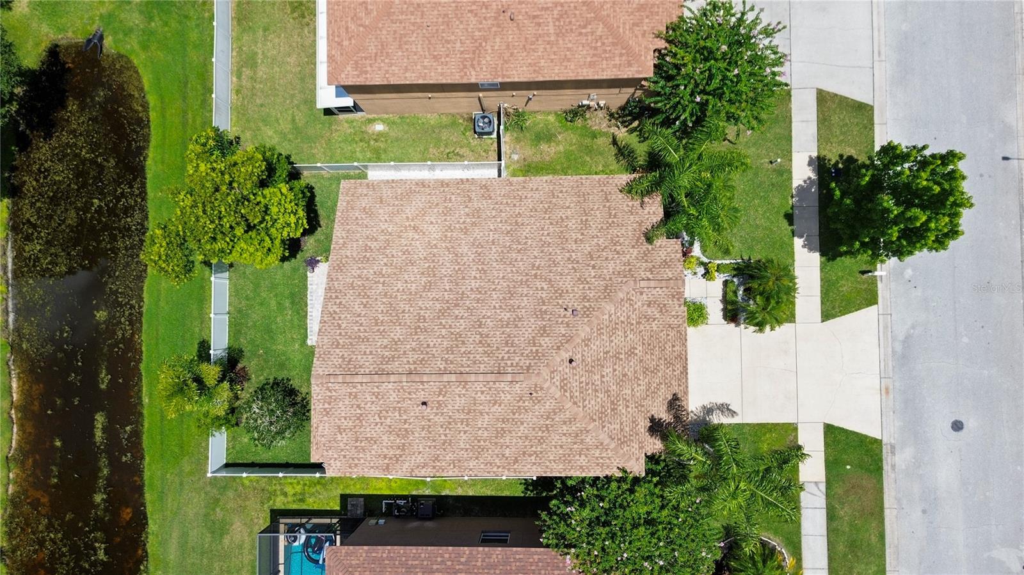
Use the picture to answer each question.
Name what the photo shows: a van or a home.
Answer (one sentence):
There is a home in the scene.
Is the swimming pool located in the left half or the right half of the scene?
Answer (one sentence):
It is on the left.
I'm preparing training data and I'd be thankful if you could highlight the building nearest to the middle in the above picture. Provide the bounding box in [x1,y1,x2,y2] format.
[311,175,689,477]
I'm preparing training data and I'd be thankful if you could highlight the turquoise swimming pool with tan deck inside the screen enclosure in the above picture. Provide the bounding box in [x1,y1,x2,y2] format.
[277,517,367,575]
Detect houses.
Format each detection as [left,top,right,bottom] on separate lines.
[326,516,650,575]
[325,0,681,115]
[311,175,689,477]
